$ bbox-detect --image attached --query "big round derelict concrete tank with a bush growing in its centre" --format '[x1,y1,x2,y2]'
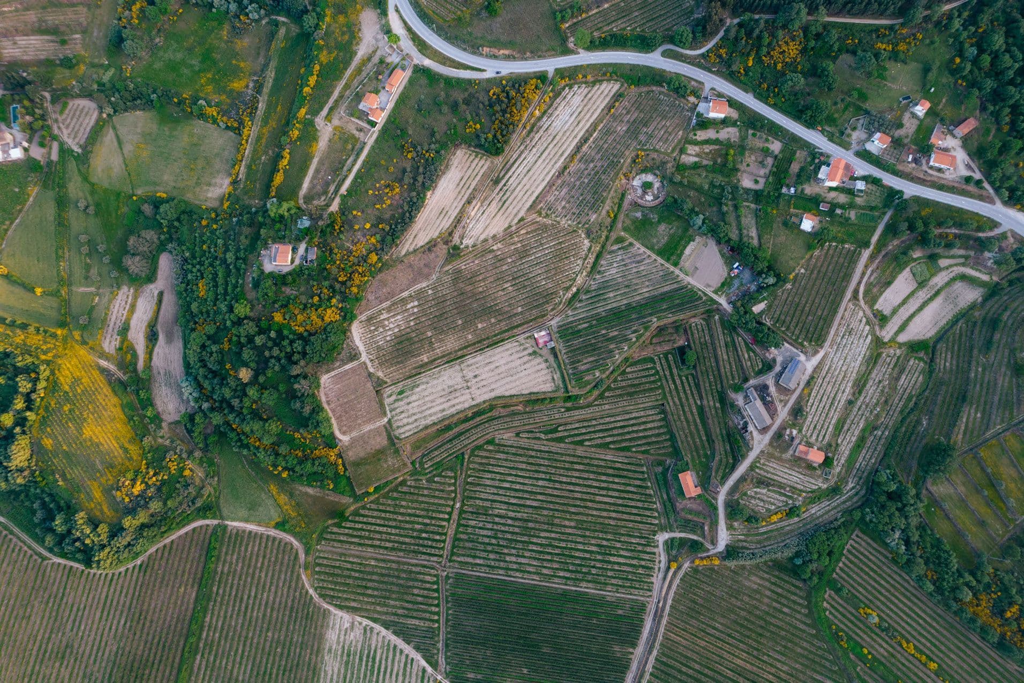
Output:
[626,169,667,210]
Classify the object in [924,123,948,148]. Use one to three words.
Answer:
barn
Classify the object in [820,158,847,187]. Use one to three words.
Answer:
house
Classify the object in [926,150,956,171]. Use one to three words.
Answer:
house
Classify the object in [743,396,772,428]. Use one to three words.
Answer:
barn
